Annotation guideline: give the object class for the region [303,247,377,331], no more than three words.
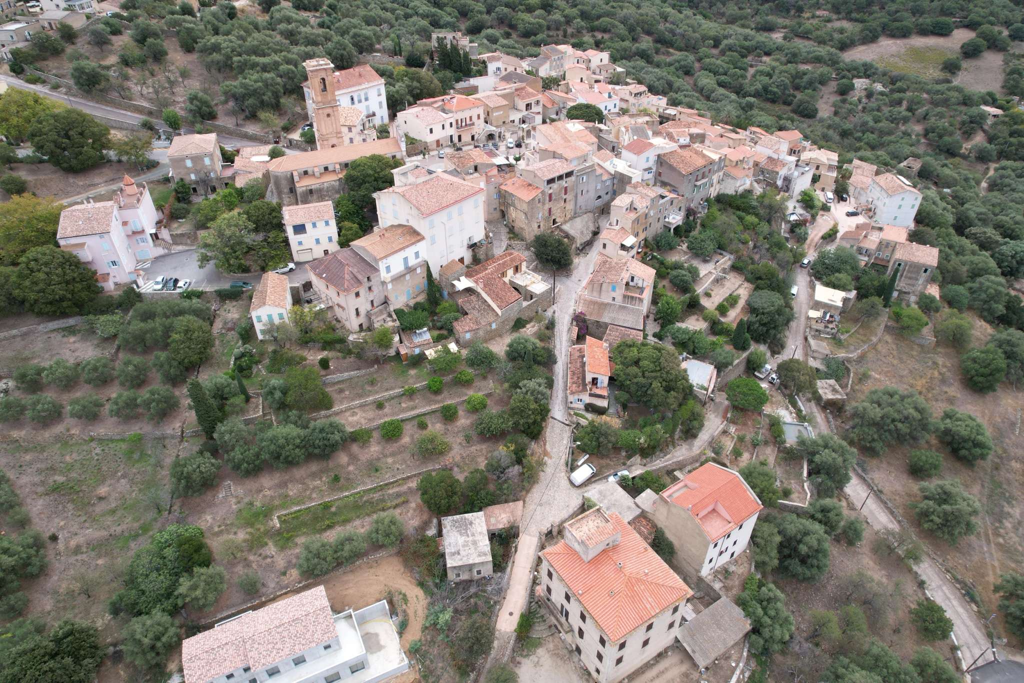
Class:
house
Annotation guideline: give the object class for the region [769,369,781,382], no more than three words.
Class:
vehicle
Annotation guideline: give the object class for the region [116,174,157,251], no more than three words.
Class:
house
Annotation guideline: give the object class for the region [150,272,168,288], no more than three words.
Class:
car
